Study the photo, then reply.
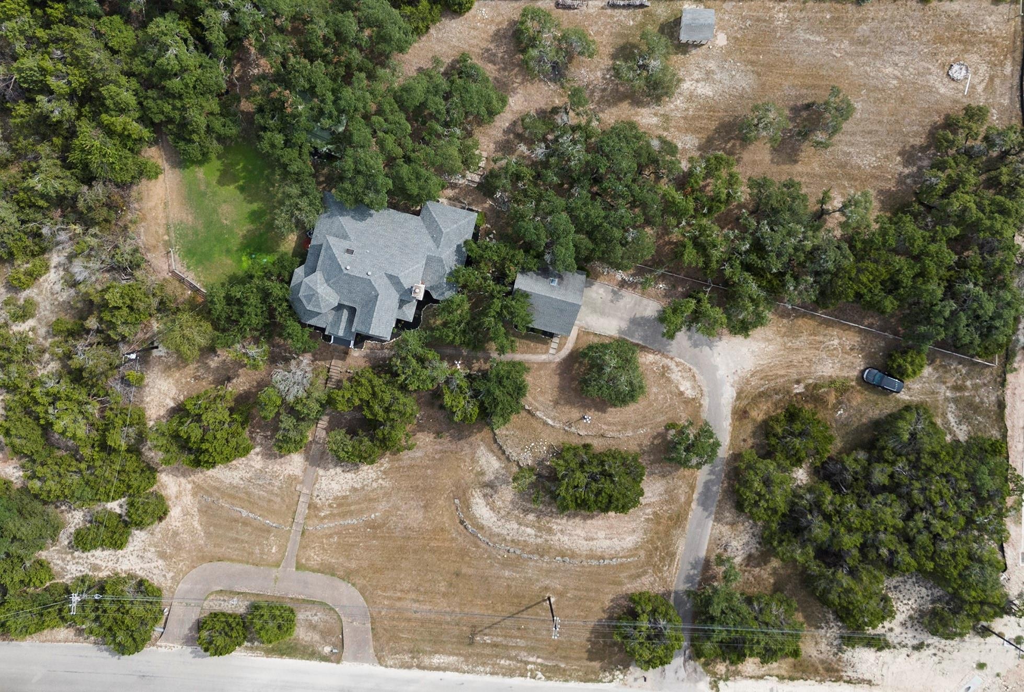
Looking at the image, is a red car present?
No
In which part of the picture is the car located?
right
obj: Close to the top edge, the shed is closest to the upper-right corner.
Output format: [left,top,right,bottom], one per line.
[677,8,715,47]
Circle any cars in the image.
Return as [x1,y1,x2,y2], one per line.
[864,367,910,394]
